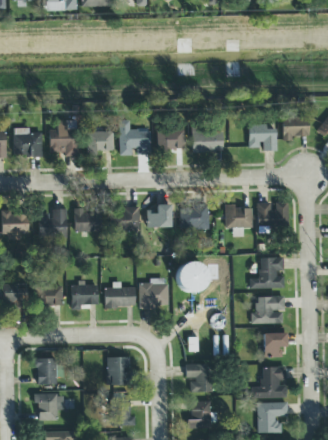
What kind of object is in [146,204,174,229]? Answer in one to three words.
house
